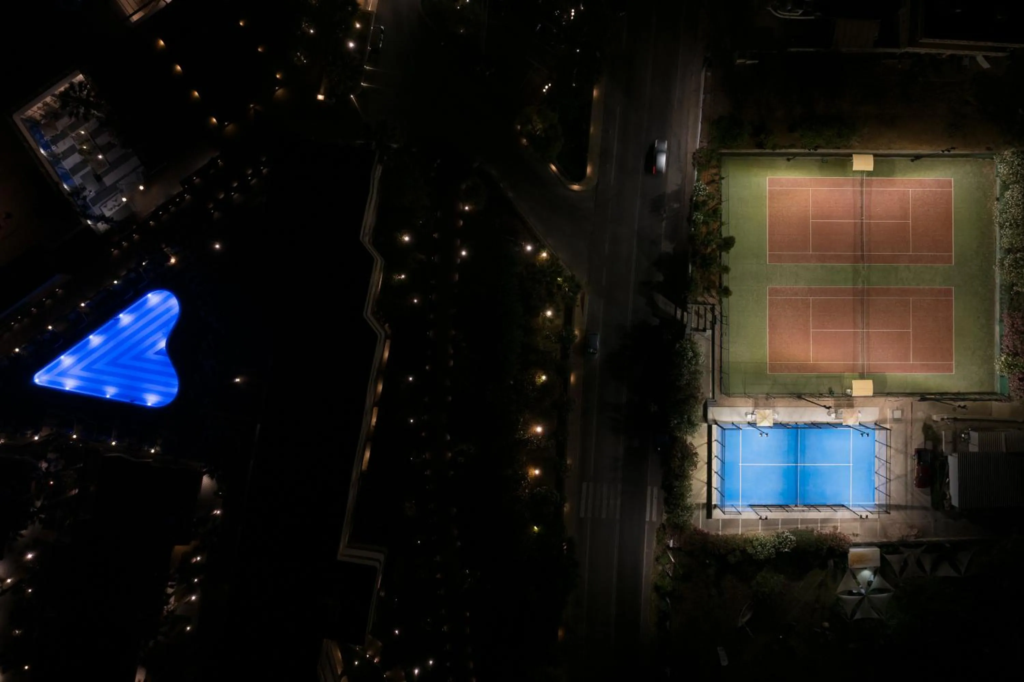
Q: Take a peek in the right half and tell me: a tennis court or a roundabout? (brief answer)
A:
tennis court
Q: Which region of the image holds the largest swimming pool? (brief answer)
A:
left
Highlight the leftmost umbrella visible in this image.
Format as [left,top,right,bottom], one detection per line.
[756,410,772,426]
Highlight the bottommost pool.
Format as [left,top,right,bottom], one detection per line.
[31,288,182,410]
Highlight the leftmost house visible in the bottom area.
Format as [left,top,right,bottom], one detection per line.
[69,464,210,633]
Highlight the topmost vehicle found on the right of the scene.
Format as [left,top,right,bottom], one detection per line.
[652,140,669,175]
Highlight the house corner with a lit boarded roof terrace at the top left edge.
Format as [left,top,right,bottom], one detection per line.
[122,0,188,31]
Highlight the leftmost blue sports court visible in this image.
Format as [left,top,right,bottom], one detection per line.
[715,423,892,515]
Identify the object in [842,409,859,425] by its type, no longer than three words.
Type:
umbrella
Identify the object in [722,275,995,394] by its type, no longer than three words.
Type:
tennis court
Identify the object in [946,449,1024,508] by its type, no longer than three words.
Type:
shed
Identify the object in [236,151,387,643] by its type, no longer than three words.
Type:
building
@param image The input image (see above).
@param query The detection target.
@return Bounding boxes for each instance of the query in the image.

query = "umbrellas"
[756,410,772,426]
[842,409,859,425]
